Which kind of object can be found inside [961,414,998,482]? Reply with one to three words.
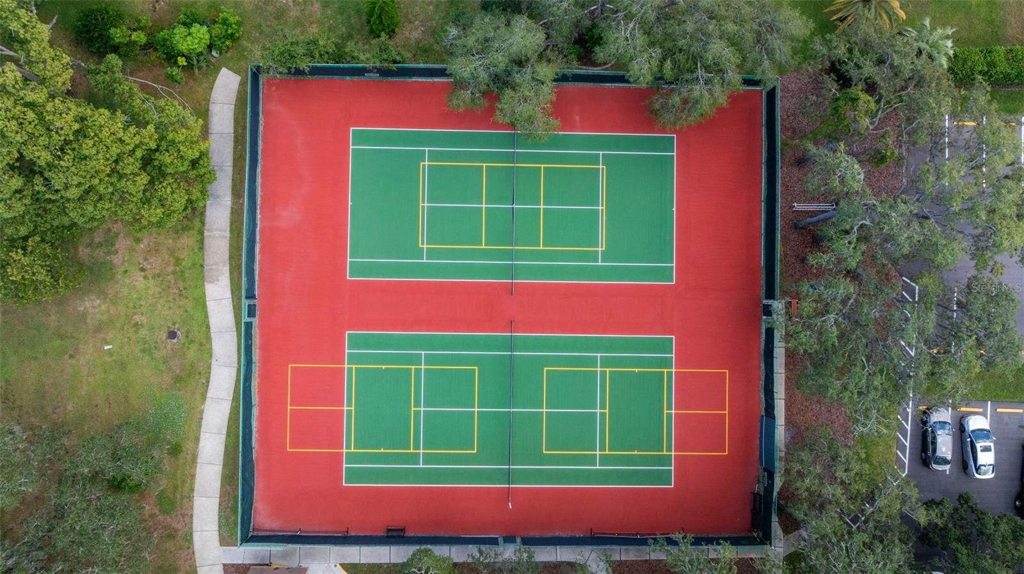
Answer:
car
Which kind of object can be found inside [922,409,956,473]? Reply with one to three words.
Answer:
car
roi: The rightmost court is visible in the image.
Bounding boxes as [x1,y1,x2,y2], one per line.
[543,368,728,454]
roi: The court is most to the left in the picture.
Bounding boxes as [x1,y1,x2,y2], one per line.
[287,365,477,452]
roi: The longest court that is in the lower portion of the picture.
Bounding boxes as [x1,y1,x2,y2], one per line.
[343,332,675,488]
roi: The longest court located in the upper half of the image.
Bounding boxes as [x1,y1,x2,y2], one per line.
[347,127,676,284]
